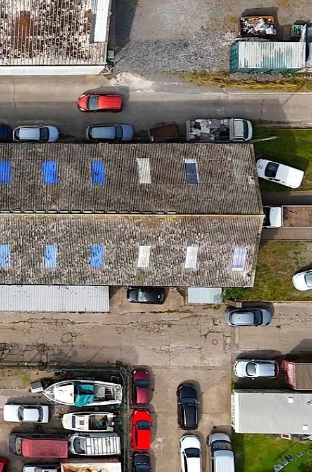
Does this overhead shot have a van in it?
Yes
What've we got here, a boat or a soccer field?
boat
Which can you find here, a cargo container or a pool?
cargo container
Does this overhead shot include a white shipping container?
Yes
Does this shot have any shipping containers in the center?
No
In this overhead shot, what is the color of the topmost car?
red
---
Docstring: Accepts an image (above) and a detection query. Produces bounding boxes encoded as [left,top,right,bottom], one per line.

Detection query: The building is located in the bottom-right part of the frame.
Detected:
[211,387,312,435]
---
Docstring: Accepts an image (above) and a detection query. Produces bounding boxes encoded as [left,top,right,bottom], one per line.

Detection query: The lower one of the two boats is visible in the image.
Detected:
[63,412,119,431]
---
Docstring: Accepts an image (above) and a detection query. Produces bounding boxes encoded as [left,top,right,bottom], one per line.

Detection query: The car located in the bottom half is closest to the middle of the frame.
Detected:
[125,288,165,306]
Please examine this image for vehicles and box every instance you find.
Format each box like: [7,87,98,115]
[177,432,204,472]
[205,432,241,472]
[224,306,270,328]
[3,403,49,425]
[130,452,153,472]
[231,358,277,380]
[129,409,152,451]
[75,93,122,114]
[12,121,59,141]
[262,204,312,230]
[9,431,71,462]
[279,358,312,392]
[21,463,58,472]
[184,115,251,141]
[175,382,202,430]
[125,288,165,306]
[257,159,306,191]
[84,120,133,141]
[68,431,125,461]
[0,455,9,472]
[289,268,312,291]
[128,367,152,409]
